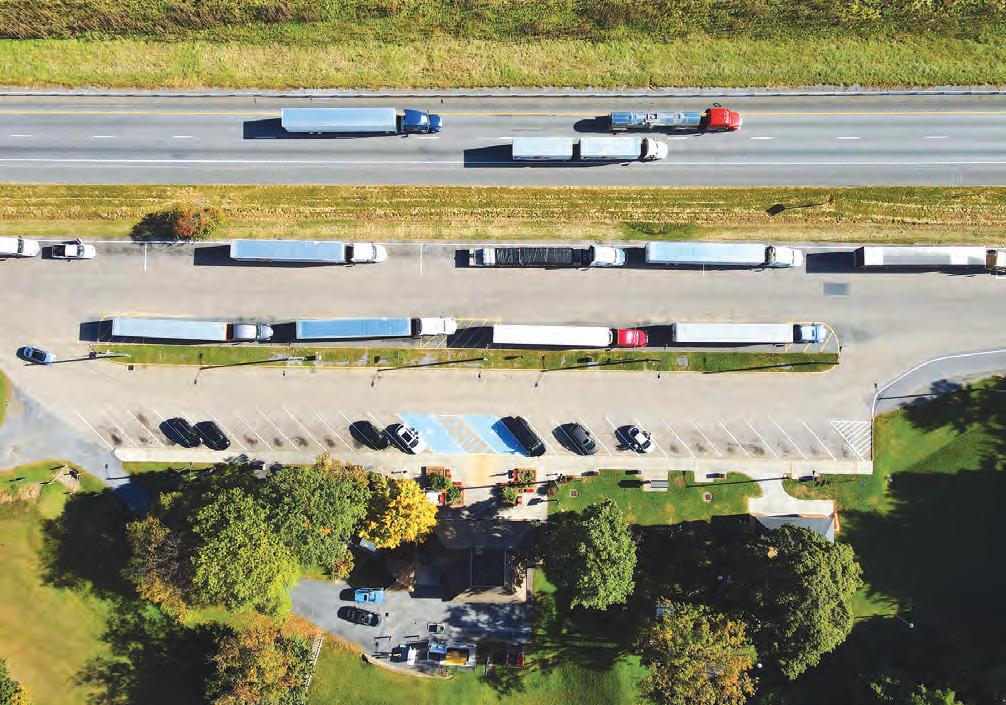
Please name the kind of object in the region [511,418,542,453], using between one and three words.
car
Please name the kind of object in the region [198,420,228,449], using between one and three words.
car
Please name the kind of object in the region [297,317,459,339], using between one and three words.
truck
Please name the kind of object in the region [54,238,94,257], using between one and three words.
vehicle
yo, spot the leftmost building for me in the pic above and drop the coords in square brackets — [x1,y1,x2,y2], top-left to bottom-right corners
[416,519,536,602]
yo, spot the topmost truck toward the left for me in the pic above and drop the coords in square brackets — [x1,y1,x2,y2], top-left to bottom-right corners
[281,108,443,135]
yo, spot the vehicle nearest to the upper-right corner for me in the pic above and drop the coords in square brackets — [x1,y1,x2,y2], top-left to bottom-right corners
[852,247,1006,271]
